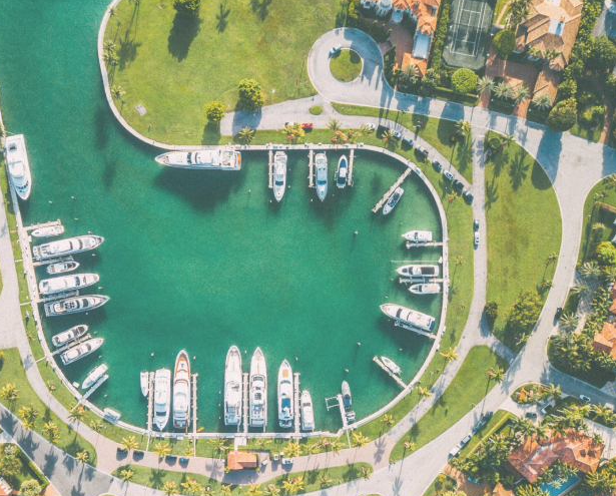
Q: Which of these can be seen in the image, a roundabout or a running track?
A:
roundabout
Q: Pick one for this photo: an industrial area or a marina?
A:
marina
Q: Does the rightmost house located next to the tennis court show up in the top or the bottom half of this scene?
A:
top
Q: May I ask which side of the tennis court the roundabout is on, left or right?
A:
on the left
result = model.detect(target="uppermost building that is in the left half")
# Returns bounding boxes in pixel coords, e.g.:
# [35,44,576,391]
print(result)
[227,449,257,470]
